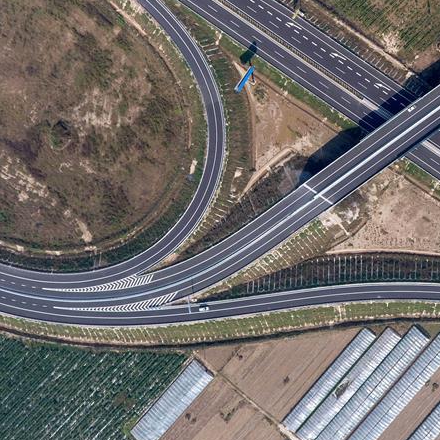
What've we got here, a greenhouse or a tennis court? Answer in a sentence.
This aerial view contains a greenhouse.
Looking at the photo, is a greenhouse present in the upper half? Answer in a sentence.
No, I see no greenhouse in the upper half.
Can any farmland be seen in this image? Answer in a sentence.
Yes, there's farmland in this view.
